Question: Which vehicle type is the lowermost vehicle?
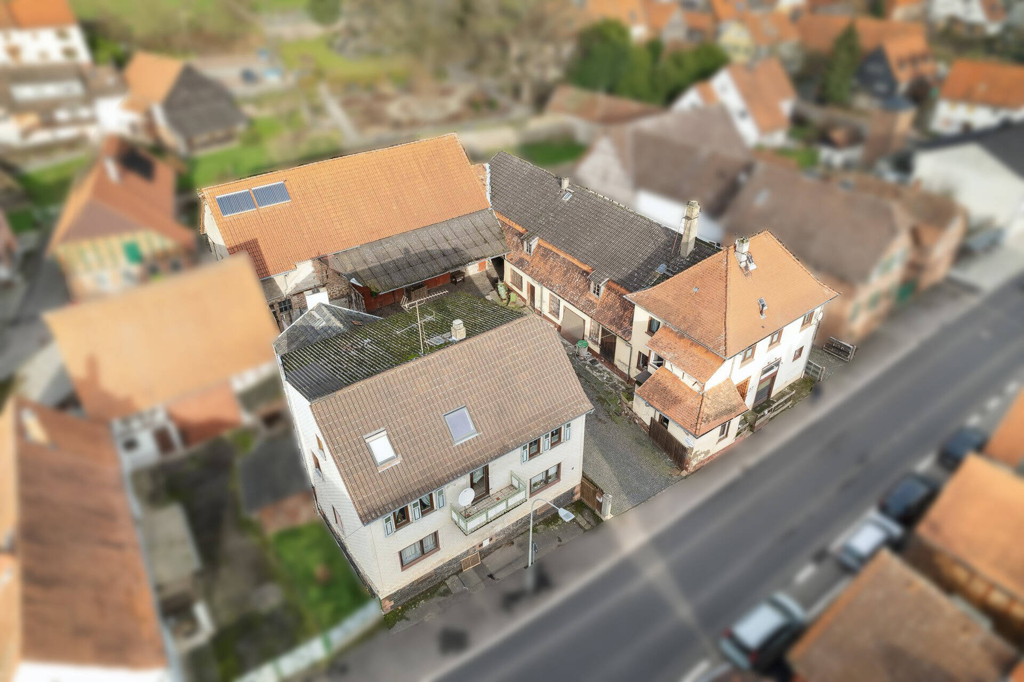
car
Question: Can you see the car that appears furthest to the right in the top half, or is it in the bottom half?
bottom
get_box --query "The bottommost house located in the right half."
[789,538,1024,682]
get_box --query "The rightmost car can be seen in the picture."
[941,426,996,469]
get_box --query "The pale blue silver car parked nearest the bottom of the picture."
[728,593,810,672]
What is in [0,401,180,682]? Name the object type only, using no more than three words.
house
